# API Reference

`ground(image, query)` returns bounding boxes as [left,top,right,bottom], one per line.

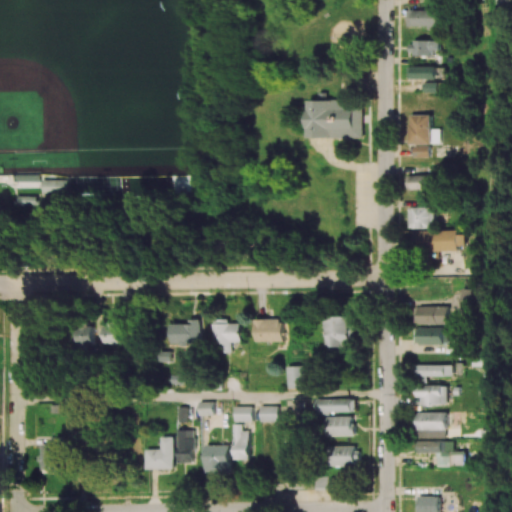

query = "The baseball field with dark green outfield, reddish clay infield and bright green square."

[0,0,192,176]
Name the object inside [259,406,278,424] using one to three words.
building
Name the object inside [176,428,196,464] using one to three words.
house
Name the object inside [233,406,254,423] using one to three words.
building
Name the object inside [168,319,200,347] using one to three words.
house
